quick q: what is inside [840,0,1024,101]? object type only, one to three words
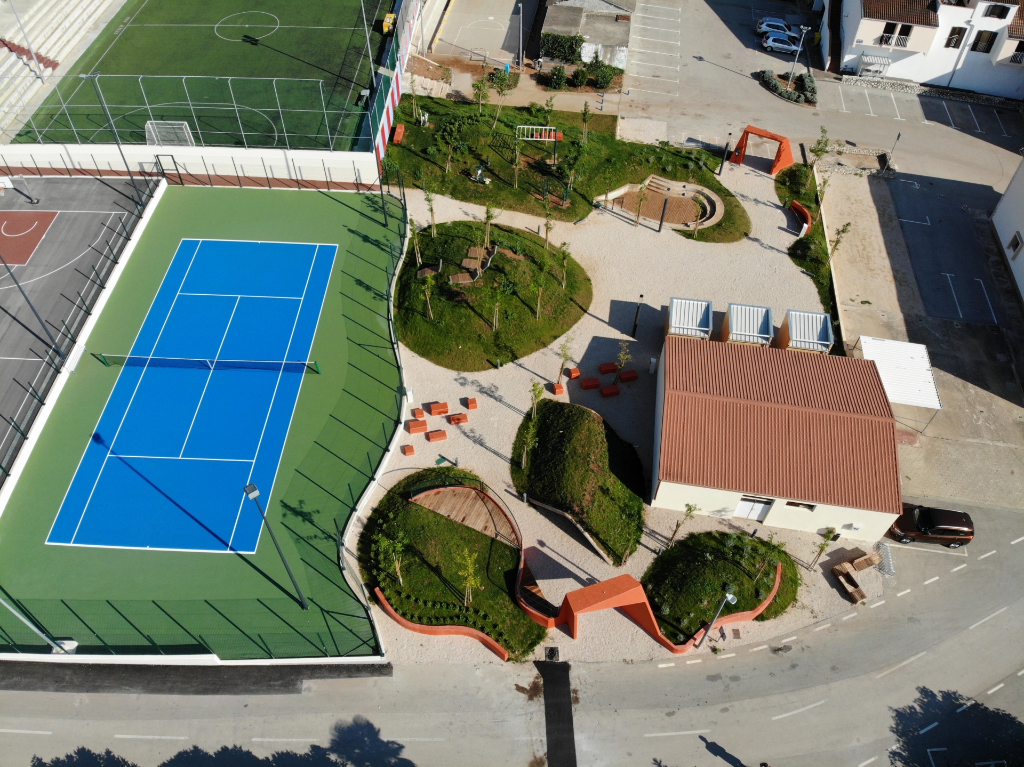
house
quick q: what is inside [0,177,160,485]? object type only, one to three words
basketball court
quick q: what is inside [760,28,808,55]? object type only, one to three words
car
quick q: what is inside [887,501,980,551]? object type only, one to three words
car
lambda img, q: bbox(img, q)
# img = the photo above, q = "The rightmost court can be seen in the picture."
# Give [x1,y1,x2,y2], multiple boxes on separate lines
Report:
[437,0,540,65]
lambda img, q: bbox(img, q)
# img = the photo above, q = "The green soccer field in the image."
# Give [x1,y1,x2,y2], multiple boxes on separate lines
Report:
[13,0,388,150]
